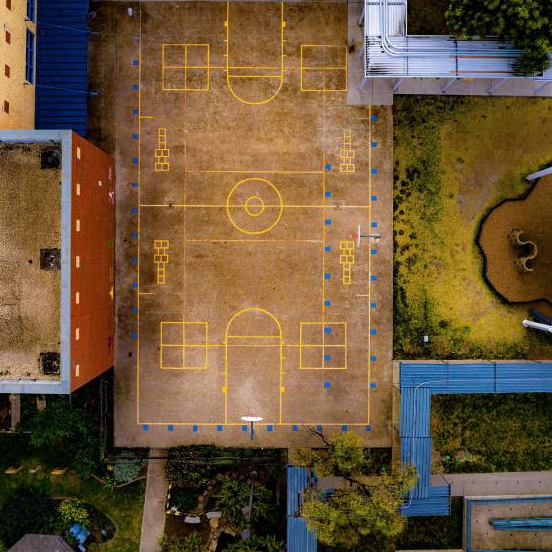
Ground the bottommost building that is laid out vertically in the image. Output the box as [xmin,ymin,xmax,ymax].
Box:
[0,131,114,395]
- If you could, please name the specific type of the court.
basketball court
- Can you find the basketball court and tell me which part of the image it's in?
center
